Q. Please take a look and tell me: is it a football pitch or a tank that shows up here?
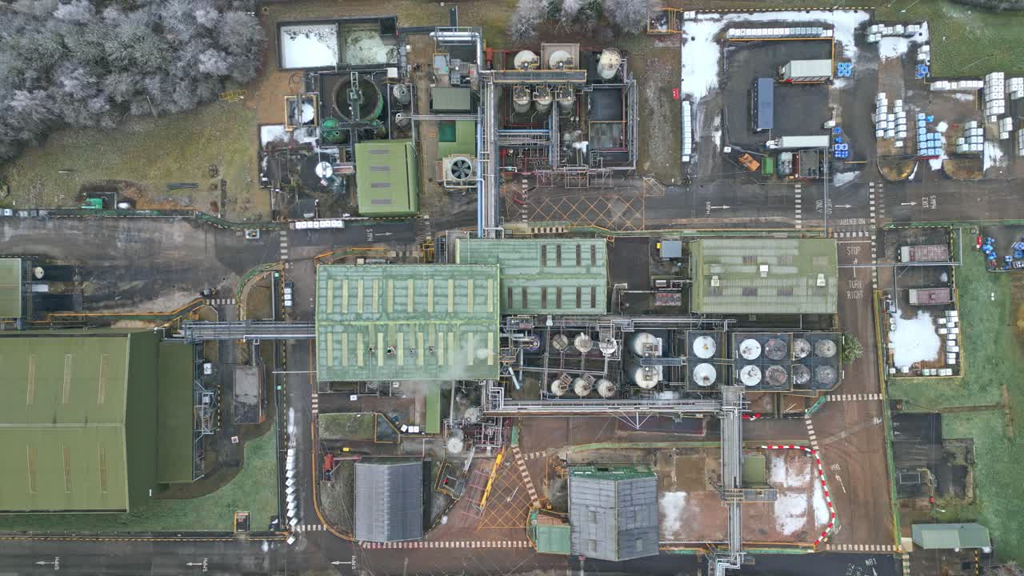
tank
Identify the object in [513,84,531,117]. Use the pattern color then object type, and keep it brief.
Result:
gray silo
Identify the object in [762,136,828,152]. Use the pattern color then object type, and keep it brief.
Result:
white vehicle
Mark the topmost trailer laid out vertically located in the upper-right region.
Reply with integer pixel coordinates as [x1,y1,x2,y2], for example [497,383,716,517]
[750,78,774,136]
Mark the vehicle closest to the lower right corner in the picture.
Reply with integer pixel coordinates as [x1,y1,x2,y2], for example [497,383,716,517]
[905,288,953,305]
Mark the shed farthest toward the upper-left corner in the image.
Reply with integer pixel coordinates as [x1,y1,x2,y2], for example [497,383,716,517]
[81,191,120,209]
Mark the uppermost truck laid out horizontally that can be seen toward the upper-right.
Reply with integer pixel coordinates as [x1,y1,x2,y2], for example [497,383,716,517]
[773,59,832,83]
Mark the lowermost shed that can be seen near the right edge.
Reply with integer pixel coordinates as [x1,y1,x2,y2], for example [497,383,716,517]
[905,520,991,549]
